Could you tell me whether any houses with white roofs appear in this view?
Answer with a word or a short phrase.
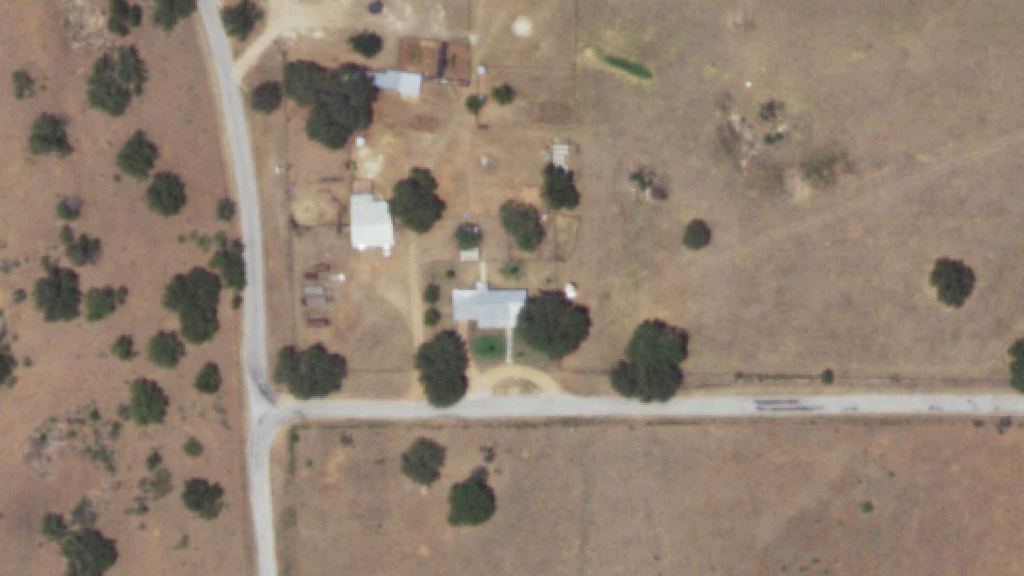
Yes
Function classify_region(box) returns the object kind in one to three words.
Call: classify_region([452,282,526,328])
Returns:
house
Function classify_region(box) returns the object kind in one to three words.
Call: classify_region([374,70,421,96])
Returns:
shed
